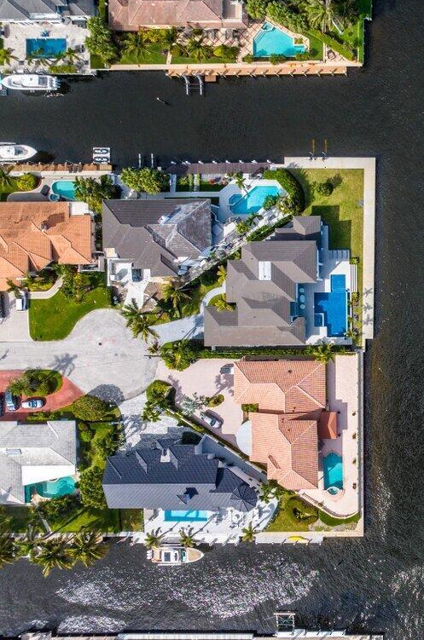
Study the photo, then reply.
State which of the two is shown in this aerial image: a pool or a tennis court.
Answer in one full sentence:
It is a pool that can be seen here.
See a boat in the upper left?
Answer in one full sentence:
Yes, you'll find a boat in the upper left.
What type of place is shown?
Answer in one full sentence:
The area seen from above is a residential area.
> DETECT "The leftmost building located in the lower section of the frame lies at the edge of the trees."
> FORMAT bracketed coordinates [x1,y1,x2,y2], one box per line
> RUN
[0,421,84,505]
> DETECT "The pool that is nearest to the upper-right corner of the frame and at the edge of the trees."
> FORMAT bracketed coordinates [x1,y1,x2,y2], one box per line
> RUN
[251,19,306,59]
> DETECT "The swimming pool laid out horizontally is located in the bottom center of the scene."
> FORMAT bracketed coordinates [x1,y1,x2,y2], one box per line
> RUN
[163,509,210,524]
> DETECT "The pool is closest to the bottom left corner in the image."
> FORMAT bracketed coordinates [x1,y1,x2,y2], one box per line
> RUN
[26,477,76,502]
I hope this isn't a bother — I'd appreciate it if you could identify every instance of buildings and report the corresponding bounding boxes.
[0,0,102,26]
[109,0,250,35]
[0,421,84,505]
[102,198,218,277]
[205,216,327,346]
[233,361,328,489]
[97,436,254,509]
[0,201,99,291]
